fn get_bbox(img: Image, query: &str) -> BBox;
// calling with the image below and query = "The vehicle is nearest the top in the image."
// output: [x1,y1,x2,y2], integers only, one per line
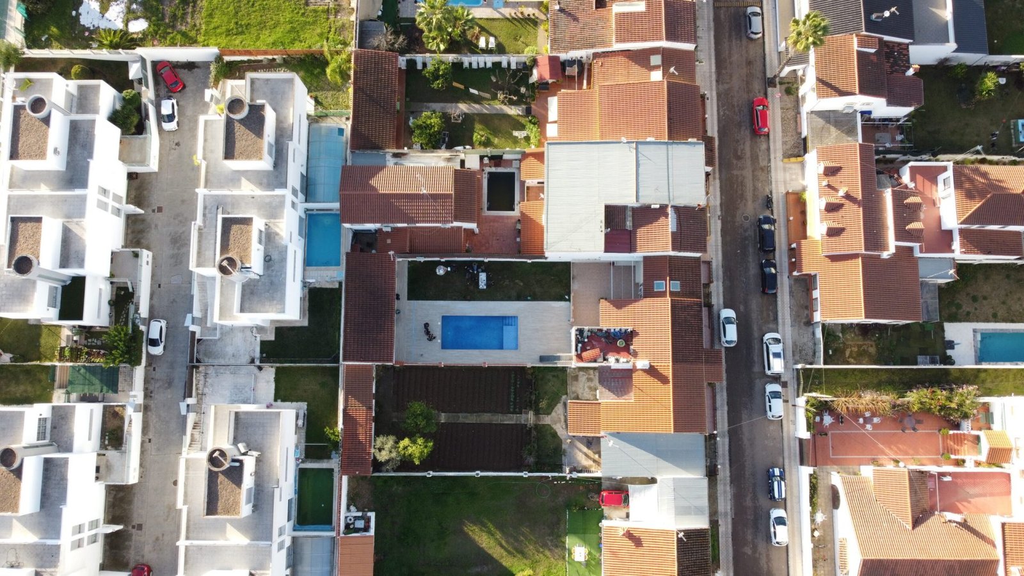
[744,8,764,40]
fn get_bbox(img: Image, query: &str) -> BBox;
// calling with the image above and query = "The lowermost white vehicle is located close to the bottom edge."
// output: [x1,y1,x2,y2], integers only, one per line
[767,505,789,548]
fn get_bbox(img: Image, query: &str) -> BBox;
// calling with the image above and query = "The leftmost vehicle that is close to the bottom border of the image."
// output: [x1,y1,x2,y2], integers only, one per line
[130,556,153,576]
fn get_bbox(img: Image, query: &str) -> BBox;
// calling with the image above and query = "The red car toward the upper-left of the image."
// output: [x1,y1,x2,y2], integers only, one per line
[158,61,185,94]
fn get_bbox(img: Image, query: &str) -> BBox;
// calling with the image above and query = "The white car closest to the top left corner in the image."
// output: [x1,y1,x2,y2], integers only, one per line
[159,97,180,131]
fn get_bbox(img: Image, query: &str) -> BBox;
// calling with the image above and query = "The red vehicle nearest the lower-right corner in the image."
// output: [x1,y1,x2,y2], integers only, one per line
[597,489,630,509]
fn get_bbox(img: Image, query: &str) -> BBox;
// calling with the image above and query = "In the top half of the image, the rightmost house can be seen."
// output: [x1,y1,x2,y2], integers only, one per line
[889,161,1024,259]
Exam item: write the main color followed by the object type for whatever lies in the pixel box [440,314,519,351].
blue swimming pool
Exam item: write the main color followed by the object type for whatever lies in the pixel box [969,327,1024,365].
blue swimming pool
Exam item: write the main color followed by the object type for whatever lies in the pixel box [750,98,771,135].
red car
